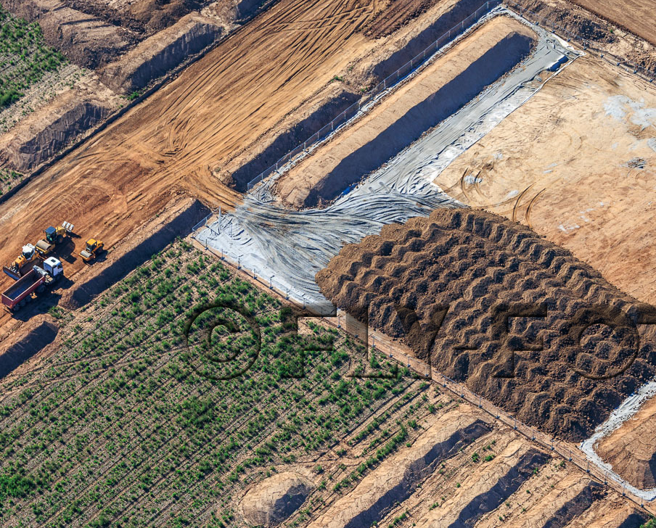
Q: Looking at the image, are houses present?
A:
No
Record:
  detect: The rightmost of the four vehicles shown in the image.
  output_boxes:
[76,238,102,261]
